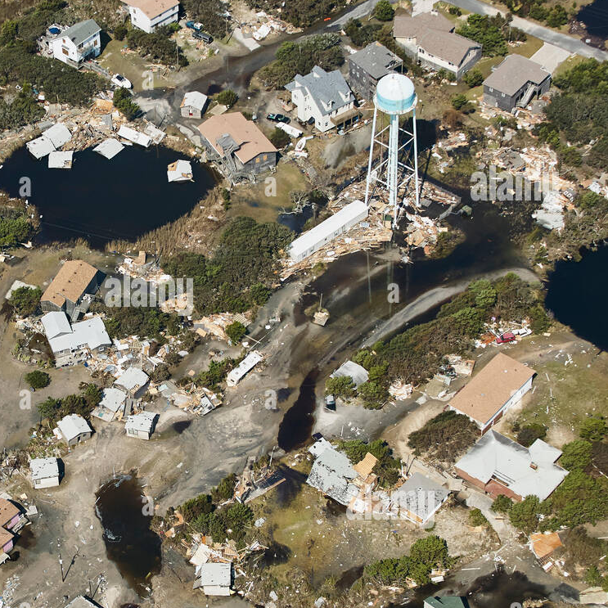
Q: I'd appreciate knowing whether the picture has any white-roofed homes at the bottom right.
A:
Yes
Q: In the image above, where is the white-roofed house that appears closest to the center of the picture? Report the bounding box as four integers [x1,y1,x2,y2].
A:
[287,201,368,265]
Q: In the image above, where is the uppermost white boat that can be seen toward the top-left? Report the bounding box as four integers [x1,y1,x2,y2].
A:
[107,71,132,85]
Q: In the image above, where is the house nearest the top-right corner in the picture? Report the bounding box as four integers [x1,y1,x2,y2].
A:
[491,57,551,111]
